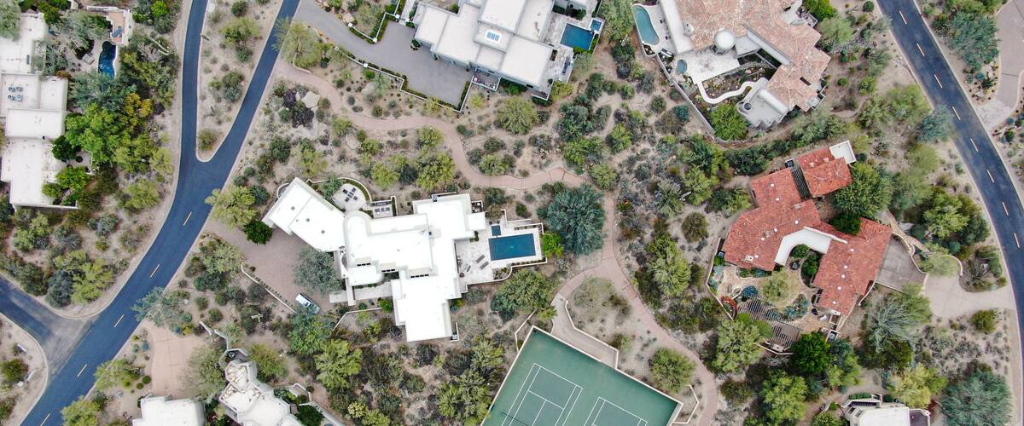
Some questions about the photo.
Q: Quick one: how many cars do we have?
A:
1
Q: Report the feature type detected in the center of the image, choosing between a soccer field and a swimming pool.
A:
swimming pool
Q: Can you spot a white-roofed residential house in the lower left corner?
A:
Yes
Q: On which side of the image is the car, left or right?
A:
left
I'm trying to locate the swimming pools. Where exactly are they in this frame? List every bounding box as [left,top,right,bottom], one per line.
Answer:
[96,38,118,76]
[675,58,689,75]
[490,223,502,238]
[634,2,661,47]
[588,16,604,33]
[486,232,538,263]
[558,21,595,48]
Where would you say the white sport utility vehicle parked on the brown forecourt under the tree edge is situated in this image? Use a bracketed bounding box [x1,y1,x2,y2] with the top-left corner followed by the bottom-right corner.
[296,293,321,314]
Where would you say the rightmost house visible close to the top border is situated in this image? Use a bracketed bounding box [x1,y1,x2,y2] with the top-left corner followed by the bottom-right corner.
[655,0,830,131]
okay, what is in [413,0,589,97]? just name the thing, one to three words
house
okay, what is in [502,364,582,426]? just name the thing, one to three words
tennis court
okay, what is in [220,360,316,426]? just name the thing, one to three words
house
